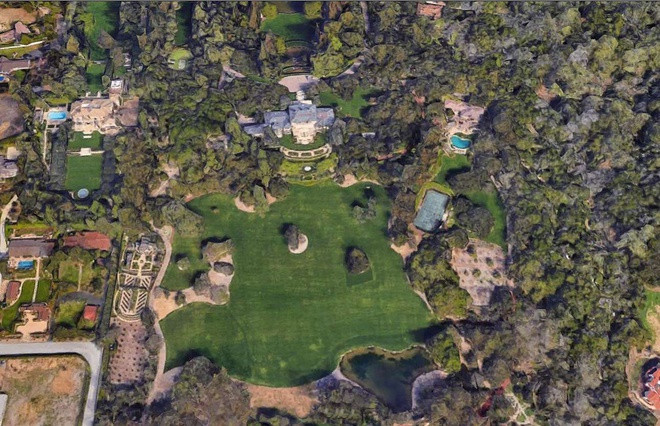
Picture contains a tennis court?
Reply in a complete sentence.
Yes, the frame does contain a tennis court.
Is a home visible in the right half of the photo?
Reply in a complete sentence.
Yes, looking in the right half of the photo, one can make out a home.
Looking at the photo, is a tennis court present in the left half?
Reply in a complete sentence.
No, there's no tennis court to be seen in the left half.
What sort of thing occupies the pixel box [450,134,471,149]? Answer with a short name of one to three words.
swimming pool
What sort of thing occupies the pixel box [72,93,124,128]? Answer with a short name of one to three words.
house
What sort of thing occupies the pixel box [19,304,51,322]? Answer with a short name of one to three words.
house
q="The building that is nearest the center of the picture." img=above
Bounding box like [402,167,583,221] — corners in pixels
[245,89,335,140]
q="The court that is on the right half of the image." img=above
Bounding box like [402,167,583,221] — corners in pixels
[413,187,451,231]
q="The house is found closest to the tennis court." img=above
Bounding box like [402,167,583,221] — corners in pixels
[445,100,484,132]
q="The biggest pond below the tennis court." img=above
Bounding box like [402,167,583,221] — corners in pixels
[340,345,438,412]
